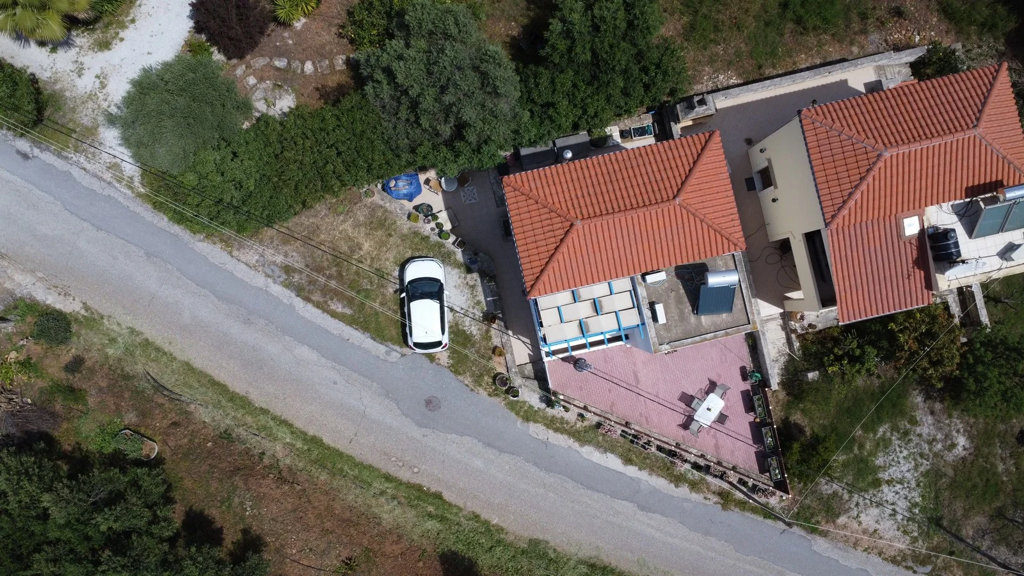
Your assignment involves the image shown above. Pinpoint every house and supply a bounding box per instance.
[499,127,759,361]
[746,59,1024,326]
